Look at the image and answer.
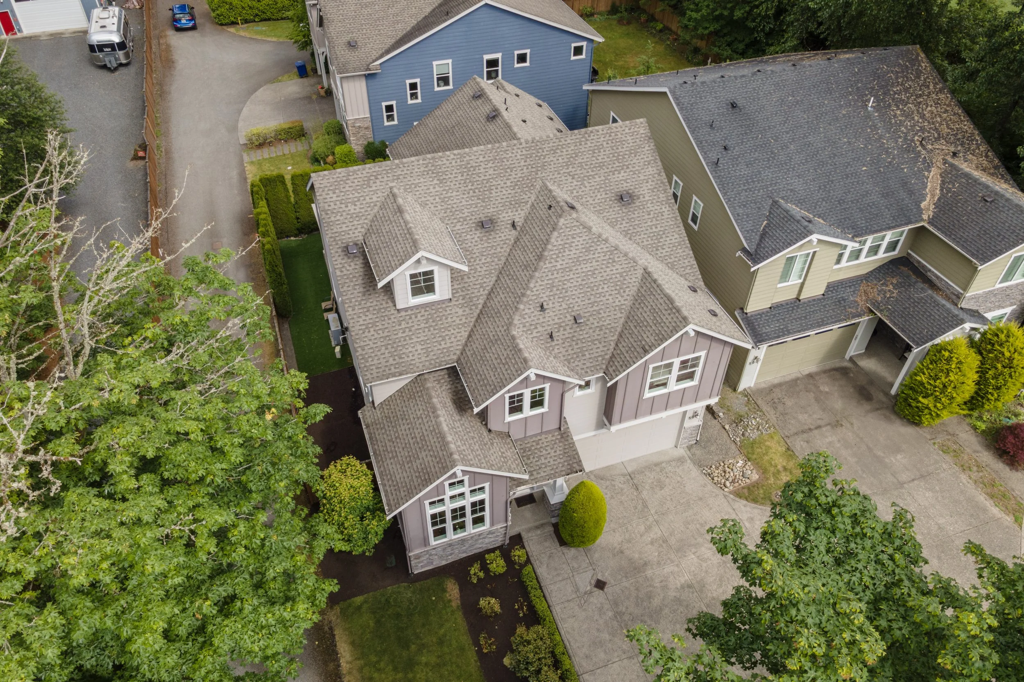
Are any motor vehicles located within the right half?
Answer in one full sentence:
No, the scene shows no motor vehicle within the right half.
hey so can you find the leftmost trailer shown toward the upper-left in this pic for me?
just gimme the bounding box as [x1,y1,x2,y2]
[91,4,135,74]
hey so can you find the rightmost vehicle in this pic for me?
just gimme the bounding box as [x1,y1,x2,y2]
[168,1,196,29]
